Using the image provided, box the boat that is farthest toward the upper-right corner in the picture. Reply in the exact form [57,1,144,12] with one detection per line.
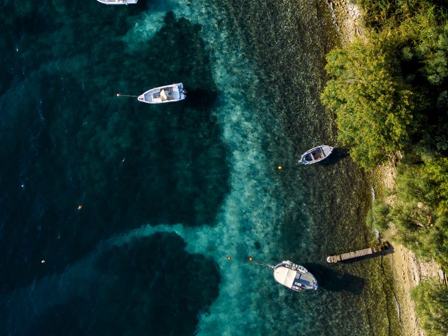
[300,145,334,164]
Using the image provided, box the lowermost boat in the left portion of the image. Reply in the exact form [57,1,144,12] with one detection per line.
[137,83,191,105]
